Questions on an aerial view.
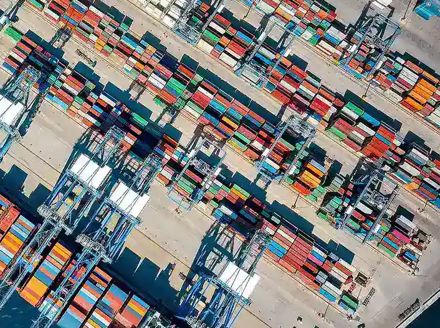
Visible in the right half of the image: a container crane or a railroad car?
container crane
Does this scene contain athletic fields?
No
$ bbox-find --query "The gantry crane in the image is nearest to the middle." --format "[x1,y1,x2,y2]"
[163,142,229,210]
